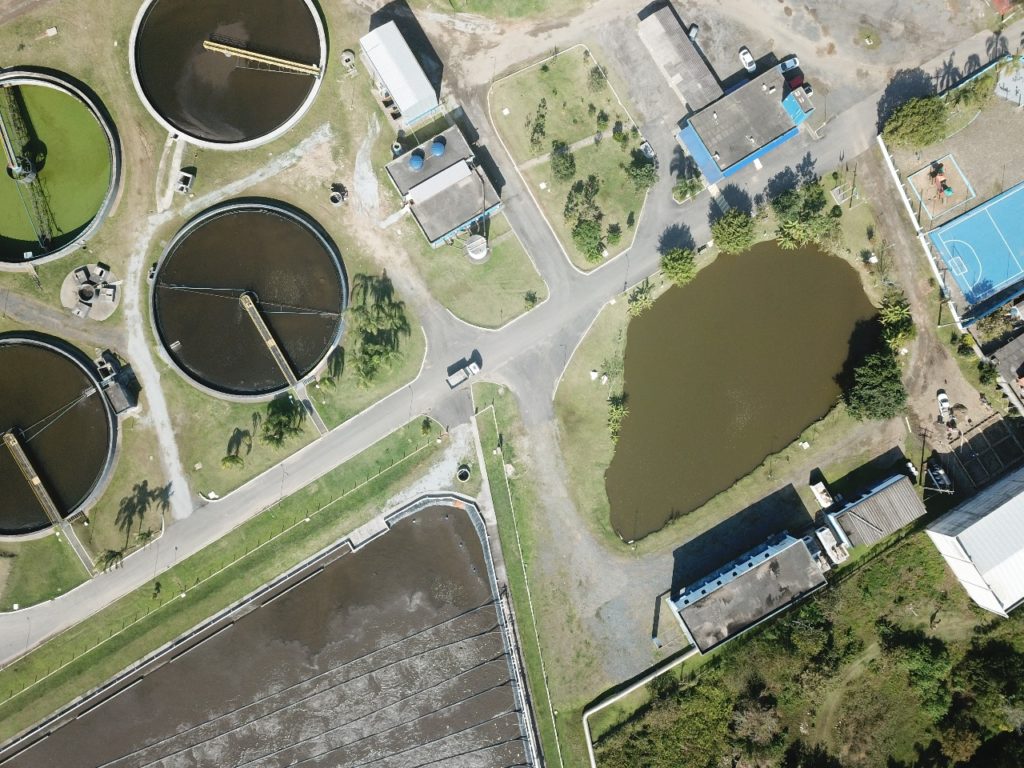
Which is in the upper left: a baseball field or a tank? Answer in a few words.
tank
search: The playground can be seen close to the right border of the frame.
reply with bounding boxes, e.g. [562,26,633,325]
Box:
[907,154,977,219]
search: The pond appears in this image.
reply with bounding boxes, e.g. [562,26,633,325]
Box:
[0,489,542,768]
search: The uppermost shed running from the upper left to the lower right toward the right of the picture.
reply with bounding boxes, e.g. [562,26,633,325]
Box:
[636,6,724,118]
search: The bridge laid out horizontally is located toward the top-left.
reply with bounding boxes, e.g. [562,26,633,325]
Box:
[203,40,321,75]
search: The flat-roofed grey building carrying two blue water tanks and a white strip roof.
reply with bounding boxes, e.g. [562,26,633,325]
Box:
[386,125,501,248]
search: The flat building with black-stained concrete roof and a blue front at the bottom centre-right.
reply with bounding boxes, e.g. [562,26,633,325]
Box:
[669,531,827,653]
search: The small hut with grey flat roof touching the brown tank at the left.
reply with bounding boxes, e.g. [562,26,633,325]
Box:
[106,382,138,419]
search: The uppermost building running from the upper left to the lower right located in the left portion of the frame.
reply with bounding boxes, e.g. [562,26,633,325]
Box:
[359,21,439,121]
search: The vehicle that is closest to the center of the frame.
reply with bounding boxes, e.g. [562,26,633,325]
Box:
[448,360,484,388]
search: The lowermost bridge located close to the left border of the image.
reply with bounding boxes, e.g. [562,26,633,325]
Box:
[0,432,65,527]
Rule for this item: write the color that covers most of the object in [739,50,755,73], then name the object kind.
white car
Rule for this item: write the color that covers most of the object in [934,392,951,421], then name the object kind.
white vehicle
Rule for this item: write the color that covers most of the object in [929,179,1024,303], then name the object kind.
blue sports court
